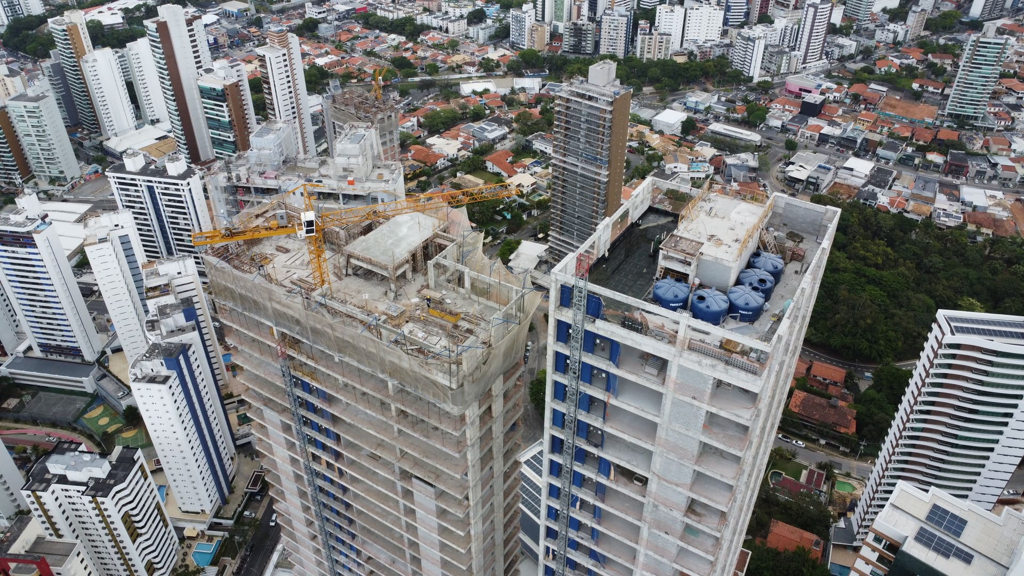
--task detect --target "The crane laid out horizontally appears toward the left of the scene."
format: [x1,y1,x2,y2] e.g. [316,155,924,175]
[189,181,525,343]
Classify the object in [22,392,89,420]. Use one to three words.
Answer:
sports court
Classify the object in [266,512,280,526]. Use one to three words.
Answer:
car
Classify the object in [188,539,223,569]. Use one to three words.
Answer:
swimming pool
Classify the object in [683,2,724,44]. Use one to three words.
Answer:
building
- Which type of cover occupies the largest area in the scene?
buildings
